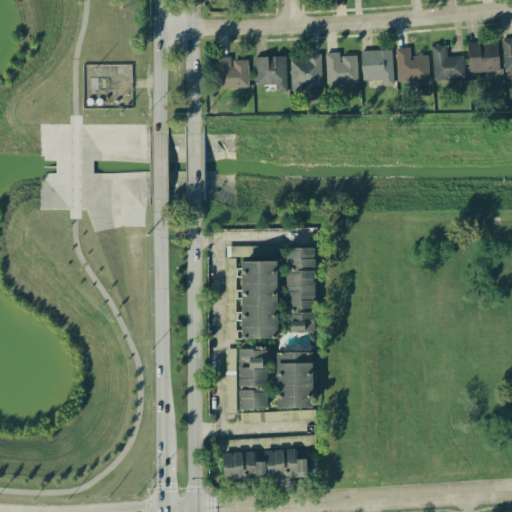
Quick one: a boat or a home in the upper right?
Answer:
home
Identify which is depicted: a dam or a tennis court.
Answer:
dam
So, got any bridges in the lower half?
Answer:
No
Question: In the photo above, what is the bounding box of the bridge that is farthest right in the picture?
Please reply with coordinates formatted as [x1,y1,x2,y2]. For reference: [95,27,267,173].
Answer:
[186,126,206,201]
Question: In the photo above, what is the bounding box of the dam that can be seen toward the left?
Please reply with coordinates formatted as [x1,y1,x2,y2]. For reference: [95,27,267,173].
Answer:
[41,116,147,232]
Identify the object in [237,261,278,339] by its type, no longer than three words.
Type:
building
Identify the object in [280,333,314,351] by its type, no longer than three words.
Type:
swimming pool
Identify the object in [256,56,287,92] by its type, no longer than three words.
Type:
house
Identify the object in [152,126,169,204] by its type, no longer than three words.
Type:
bridge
